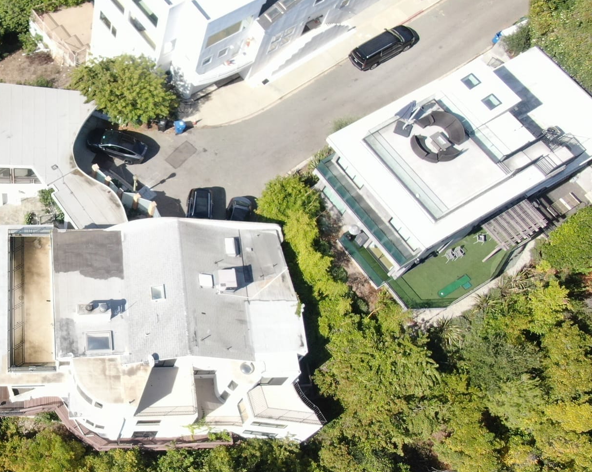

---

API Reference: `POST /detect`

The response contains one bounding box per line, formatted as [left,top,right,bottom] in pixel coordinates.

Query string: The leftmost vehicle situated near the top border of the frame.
[353,19,425,69]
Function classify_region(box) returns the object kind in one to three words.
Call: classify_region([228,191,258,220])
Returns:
car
